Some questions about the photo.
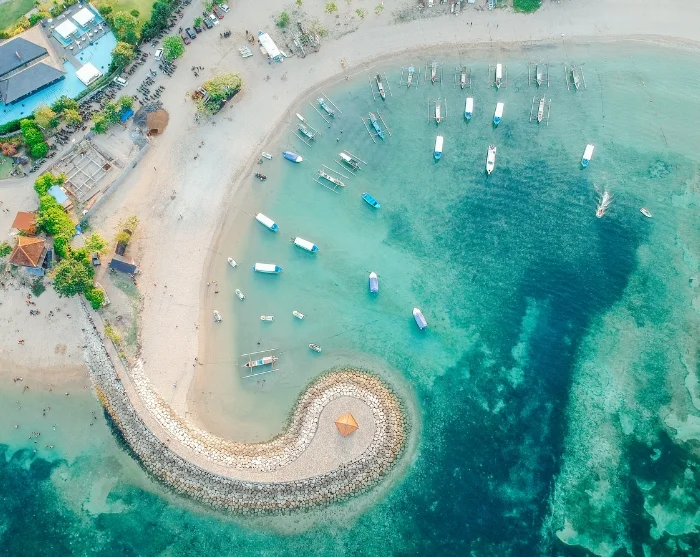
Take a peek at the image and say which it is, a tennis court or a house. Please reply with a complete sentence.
Of the two, only a house appears.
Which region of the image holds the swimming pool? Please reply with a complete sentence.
The swimming pool appears toward the top left of the photo.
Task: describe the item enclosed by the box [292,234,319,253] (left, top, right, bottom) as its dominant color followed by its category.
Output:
white boat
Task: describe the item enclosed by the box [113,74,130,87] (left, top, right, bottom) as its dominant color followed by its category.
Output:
white vehicle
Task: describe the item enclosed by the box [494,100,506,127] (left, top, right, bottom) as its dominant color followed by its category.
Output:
white boat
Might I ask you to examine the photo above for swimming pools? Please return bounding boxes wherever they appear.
[0,1,113,125]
